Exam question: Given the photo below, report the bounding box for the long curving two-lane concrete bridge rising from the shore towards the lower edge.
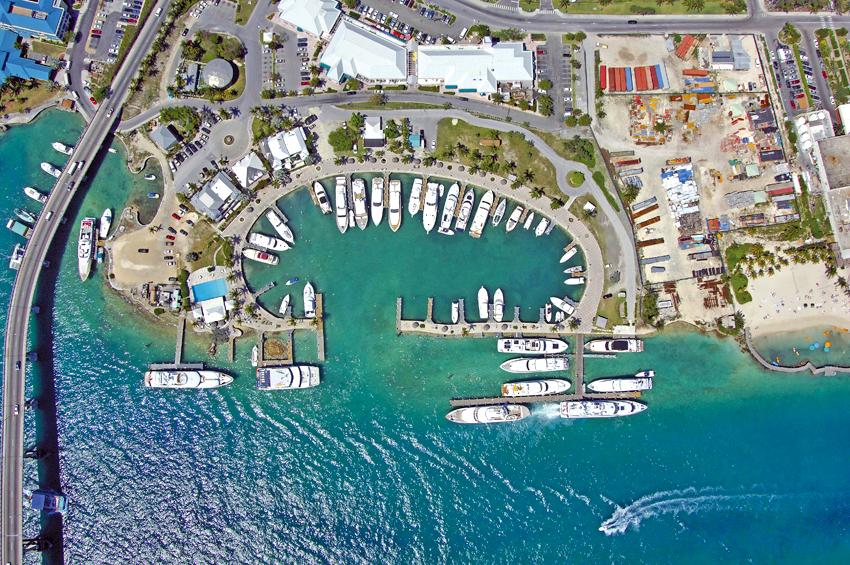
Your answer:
[2,0,173,565]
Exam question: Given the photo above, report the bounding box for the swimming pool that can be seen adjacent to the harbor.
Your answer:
[188,265,232,328]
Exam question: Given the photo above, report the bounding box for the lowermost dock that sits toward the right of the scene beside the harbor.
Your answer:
[449,391,642,407]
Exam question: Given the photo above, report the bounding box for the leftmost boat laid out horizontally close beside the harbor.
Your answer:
[144,370,232,388]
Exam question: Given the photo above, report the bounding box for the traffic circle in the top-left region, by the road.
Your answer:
[206,117,252,163]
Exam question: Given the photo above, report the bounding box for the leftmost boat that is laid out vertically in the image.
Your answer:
[9,244,25,270]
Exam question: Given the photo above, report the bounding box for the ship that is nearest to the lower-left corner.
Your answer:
[29,494,70,512]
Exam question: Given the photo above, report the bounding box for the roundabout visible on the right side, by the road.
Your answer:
[556,158,597,199]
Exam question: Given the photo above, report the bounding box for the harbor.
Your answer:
[214,151,603,335]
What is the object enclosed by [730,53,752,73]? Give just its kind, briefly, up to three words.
shed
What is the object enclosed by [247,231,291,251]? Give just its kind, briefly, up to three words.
boat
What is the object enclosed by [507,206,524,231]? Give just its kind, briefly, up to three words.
boat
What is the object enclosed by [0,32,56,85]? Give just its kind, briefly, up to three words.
building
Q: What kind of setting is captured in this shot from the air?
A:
port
